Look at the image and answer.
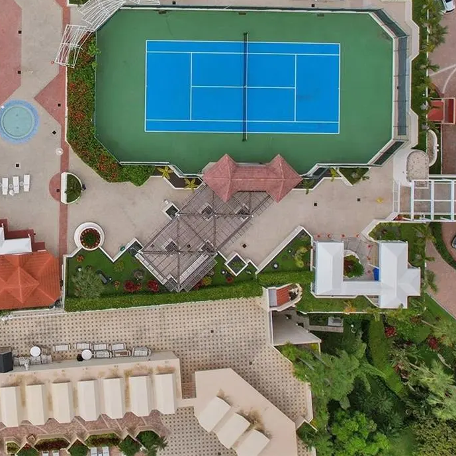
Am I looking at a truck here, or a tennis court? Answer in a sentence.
The one in the frame is a tennis court.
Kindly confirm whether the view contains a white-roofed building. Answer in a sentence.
Yes, there is a white-roofed building in the image.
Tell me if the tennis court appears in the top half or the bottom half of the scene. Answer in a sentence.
The tennis court sits in the top half of the picture.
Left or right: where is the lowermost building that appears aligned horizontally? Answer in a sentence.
It is on the left.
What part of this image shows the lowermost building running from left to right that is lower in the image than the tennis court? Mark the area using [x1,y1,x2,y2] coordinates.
[0,351,194,426]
